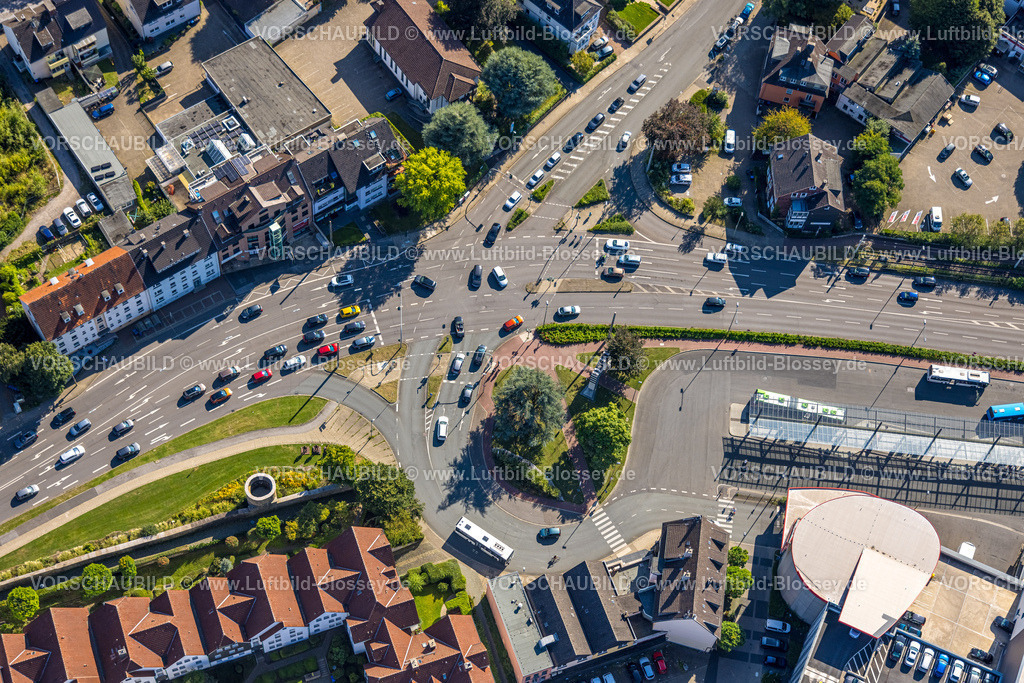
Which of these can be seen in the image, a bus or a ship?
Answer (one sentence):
The image shows a bus.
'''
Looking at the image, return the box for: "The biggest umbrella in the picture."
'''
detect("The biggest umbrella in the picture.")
[84,70,106,86]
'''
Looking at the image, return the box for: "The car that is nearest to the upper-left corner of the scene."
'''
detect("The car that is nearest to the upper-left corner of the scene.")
[91,101,115,119]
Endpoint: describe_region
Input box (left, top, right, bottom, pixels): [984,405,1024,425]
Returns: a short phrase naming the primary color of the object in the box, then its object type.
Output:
blue bus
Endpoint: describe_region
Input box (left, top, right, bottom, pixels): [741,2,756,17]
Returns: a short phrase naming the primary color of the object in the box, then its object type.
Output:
blue car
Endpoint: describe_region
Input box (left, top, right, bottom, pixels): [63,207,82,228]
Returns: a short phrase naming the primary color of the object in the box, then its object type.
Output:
white car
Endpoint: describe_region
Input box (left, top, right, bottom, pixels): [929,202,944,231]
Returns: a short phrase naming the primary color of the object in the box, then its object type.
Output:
white camper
